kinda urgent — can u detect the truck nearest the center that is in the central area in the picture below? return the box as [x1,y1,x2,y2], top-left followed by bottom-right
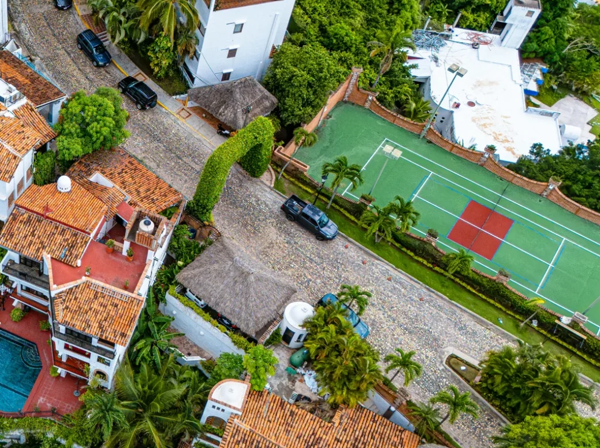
[278,189,342,242]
